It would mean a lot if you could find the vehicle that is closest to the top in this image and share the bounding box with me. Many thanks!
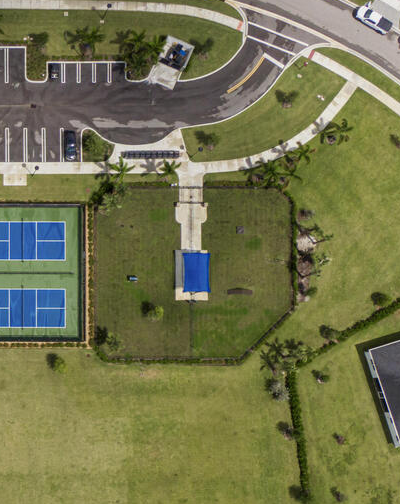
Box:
[355,4,395,35]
